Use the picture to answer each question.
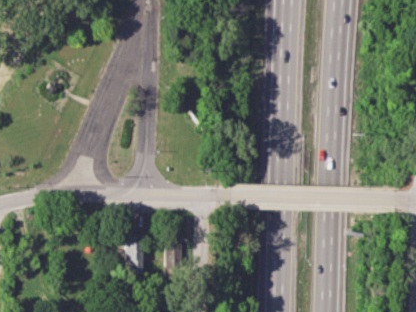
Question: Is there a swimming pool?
No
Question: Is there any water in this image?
No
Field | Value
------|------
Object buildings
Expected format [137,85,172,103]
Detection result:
[120,242,146,268]
[163,246,180,276]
